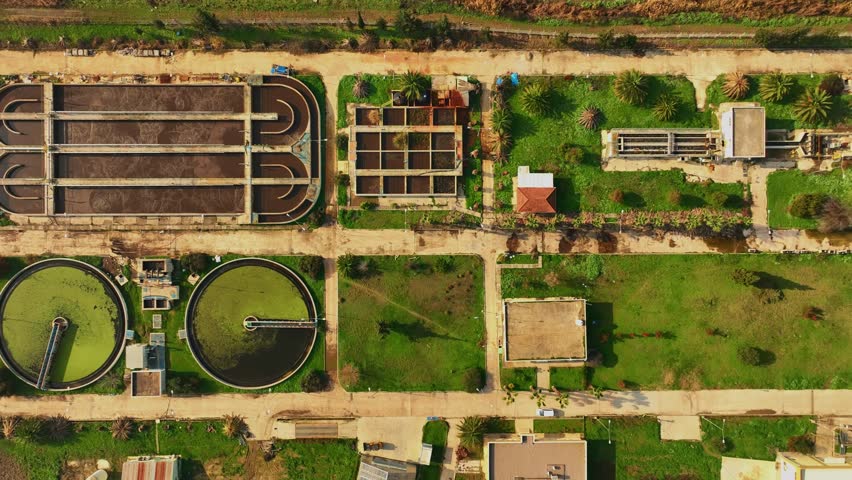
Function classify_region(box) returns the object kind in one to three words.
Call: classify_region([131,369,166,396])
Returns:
shed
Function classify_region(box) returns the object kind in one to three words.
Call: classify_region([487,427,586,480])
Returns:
building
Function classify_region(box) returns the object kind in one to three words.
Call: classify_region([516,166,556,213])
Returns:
house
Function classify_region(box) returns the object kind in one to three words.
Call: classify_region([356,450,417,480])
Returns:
shed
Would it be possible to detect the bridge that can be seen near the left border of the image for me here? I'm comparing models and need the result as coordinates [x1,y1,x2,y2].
[32,320,64,392]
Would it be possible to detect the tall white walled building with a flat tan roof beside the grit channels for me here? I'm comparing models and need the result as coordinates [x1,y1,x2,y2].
[721,106,765,161]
